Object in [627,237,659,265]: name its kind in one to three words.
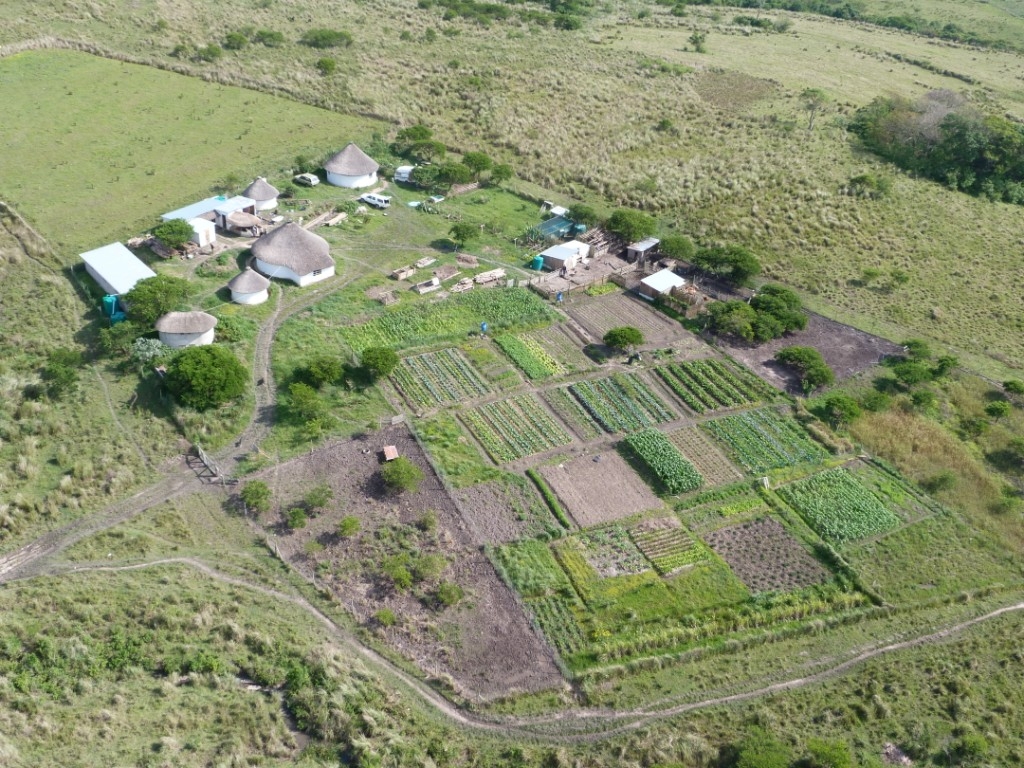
shed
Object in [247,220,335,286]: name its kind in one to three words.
house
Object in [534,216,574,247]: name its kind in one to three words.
house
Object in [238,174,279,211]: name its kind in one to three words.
shed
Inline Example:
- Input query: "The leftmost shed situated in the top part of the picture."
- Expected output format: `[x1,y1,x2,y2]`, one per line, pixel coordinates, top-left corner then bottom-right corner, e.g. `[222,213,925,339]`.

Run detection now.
[79,241,159,310]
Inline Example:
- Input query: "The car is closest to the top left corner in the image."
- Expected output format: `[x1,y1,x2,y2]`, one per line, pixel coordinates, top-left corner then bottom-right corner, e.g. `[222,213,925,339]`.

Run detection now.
[292,172,320,187]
